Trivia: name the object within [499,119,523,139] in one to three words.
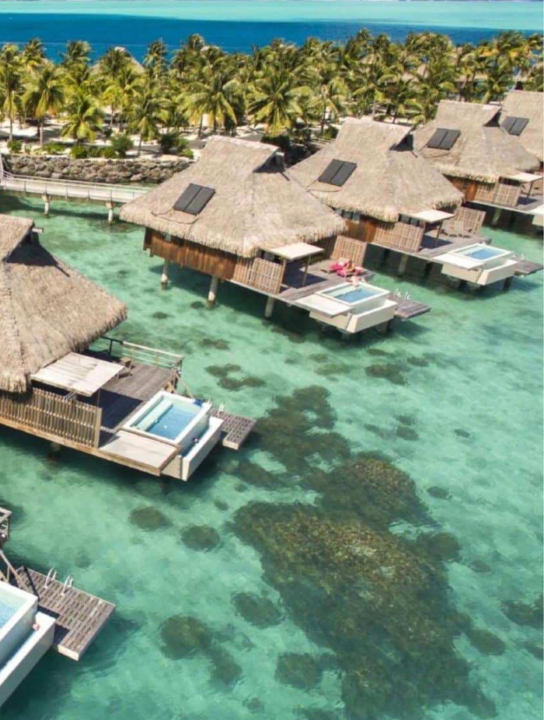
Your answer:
solar panel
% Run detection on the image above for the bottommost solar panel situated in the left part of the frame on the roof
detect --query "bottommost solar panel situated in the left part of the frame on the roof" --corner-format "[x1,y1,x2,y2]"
[158,184,214,224]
